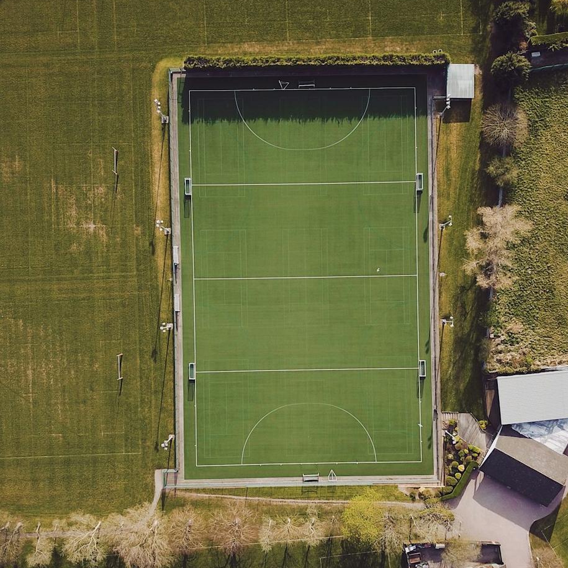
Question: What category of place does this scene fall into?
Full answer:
What you see here is a sports ground.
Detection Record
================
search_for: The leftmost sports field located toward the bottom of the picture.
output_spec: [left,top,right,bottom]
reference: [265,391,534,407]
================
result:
[0,279,153,463]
